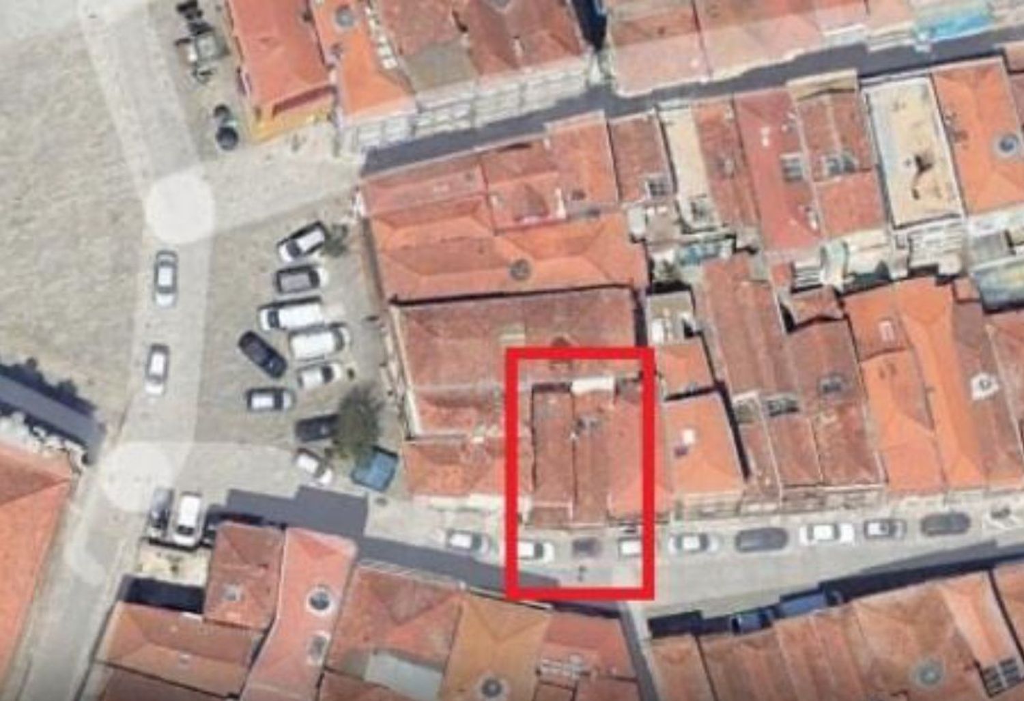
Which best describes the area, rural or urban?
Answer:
urban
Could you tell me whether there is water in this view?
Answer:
No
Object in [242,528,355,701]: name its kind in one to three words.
house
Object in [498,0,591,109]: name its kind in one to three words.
house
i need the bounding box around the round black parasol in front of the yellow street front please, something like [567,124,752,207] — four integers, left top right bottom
[215,125,238,148]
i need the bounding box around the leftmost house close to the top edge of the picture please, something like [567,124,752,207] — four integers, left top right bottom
[215,0,334,140]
